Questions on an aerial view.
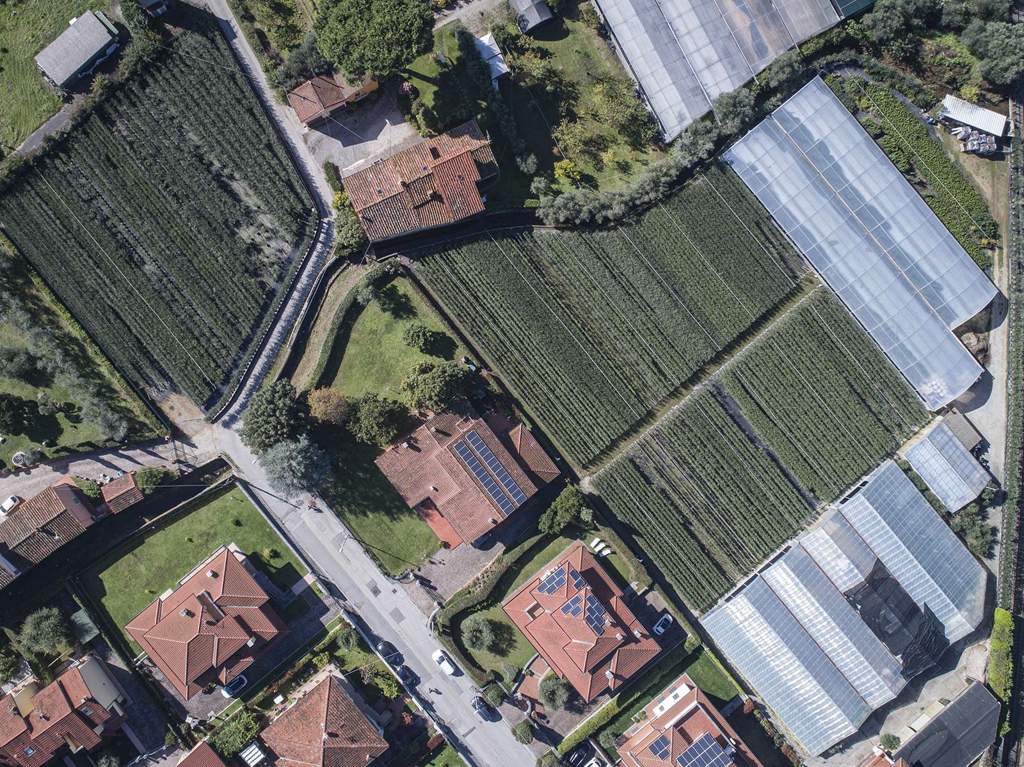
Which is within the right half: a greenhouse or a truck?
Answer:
greenhouse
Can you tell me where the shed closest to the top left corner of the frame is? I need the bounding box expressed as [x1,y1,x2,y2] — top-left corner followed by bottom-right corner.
[35,10,122,90]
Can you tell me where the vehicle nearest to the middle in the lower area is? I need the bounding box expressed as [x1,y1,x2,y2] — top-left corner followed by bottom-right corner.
[466,530,495,556]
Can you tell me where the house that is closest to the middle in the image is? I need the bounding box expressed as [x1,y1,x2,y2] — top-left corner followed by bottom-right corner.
[373,400,561,550]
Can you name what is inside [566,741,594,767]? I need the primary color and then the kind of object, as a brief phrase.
black car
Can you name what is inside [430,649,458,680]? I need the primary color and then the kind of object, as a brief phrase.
white car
